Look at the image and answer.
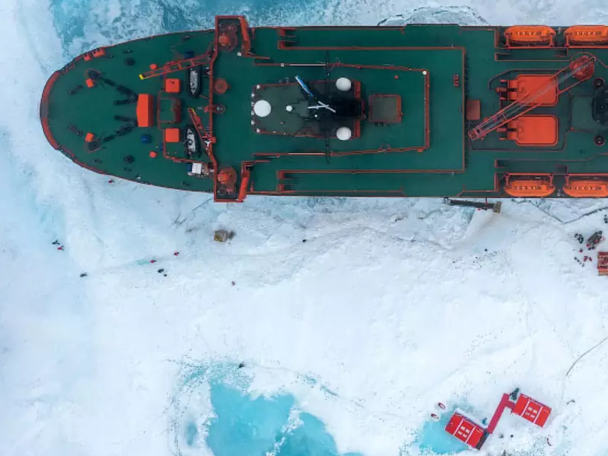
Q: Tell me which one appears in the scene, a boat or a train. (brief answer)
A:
boat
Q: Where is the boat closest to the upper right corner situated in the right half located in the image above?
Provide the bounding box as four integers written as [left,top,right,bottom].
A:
[563,26,608,46]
